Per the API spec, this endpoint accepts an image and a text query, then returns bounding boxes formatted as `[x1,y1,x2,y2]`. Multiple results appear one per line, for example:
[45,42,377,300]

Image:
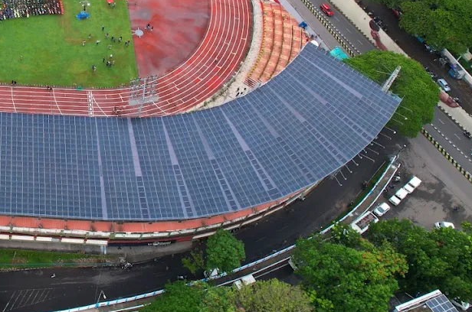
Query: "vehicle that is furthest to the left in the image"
[318,1,336,15]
